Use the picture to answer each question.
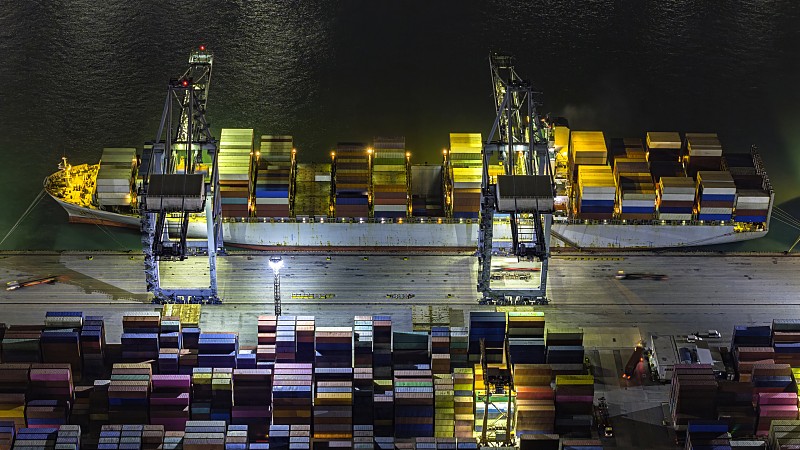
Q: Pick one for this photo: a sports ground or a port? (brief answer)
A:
port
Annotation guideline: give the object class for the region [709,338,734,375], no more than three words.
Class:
shed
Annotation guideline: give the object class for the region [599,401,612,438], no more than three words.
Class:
vehicle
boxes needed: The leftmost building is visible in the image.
[649,334,680,378]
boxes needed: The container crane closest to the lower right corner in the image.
[480,336,519,439]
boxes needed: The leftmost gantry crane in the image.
[131,43,227,304]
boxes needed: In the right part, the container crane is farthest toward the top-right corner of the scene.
[470,43,559,304]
